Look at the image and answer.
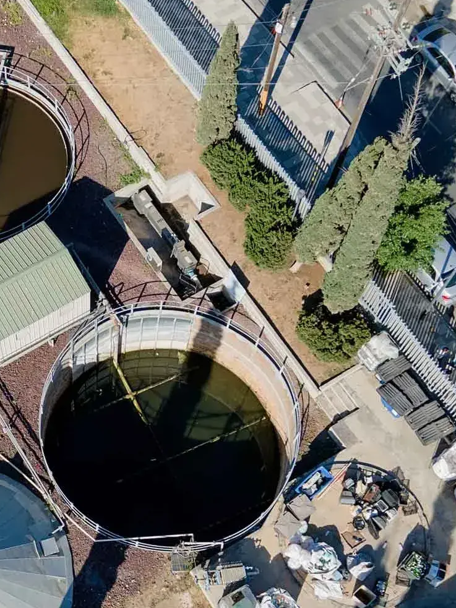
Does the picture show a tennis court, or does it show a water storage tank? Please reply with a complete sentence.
This aerial view contains a water storage tank.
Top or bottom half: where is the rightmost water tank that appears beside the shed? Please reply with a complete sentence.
It is in the bottom half that the rightmost water tank that appears beside the shed appears.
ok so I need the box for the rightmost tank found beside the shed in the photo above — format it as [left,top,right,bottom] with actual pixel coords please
[39,301,299,555]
